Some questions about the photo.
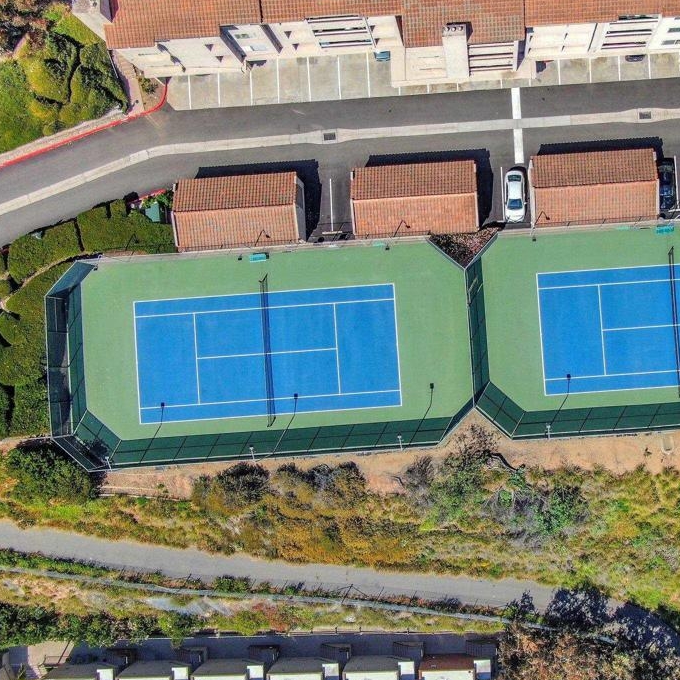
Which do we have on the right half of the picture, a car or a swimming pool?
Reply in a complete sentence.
The one visible on the right half of the picture is a car.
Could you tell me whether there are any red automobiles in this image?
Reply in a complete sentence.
No, the scene contains no red automobile.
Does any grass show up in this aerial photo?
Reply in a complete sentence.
Yes, grass can be seen from above here.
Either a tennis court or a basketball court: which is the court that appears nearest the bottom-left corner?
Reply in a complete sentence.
The court that appears nearest the bottom-left corner appears to be a tennis court.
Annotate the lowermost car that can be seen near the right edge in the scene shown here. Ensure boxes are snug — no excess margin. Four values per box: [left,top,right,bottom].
[658,159,680,211]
